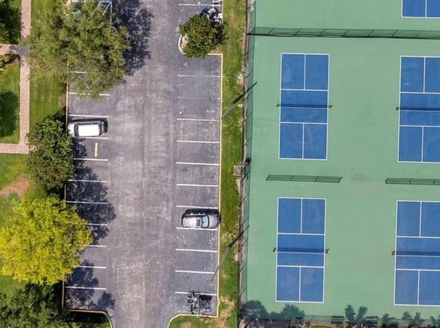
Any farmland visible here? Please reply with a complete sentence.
No, there's no farmland in this view.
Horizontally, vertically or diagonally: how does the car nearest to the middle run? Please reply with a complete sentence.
The car nearest to the middle has been laid out horizontally relative to the frame.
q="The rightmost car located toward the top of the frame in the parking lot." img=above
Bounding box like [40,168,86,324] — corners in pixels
[70,121,107,140]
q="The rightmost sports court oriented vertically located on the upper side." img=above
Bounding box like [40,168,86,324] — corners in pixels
[397,56,440,163]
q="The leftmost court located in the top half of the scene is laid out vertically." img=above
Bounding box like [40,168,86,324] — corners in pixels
[278,54,330,160]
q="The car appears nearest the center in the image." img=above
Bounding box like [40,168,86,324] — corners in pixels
[182,211,219,231]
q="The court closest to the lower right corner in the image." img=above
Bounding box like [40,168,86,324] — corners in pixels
[394,200,440,306]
